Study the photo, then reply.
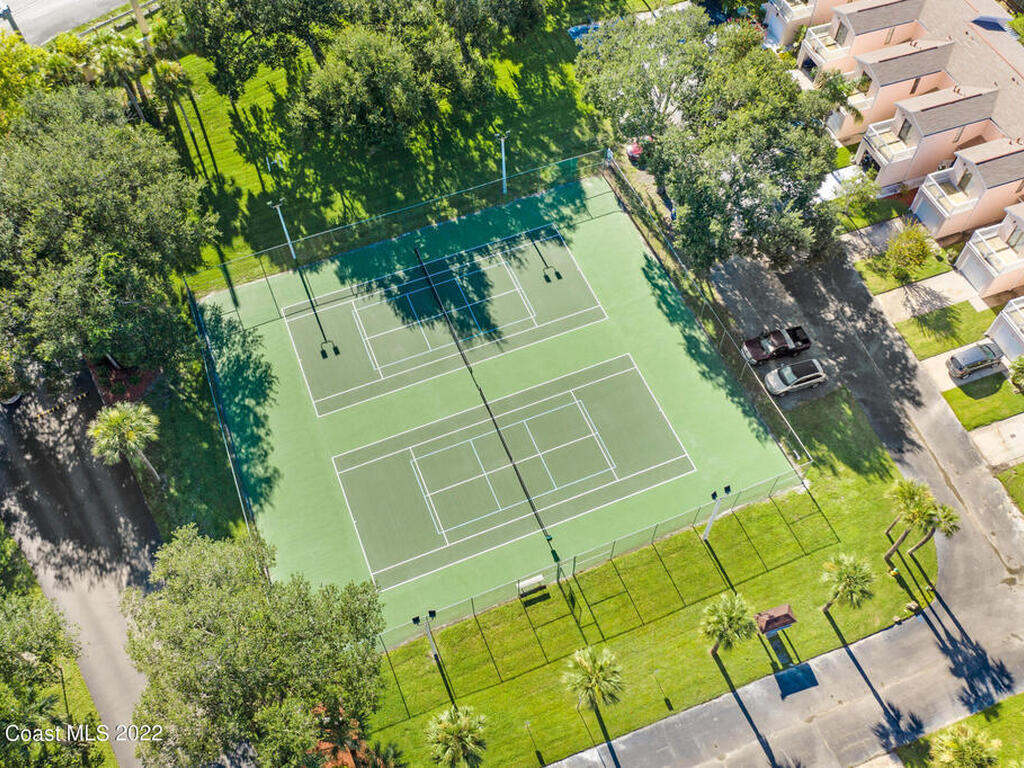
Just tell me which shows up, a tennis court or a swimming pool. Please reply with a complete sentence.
Of the two, only a tennis court appears.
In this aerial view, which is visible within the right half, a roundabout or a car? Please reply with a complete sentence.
Looking within the right half, you will find a car.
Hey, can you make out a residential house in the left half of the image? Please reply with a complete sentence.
No, I can find no residential house in the left half of the image.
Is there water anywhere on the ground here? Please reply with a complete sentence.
No, the picture contains no water.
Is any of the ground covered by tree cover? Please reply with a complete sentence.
Yes, some tree cover is visible.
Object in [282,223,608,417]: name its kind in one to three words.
tennis court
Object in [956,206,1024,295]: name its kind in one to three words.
house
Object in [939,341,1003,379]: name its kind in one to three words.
car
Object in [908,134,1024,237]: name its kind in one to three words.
house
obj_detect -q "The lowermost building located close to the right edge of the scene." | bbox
[988,298,1024,366]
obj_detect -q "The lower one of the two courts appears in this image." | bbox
[332,353,696,592]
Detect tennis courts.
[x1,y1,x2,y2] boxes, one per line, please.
[282,223,608,417]
[332,353,696,592]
